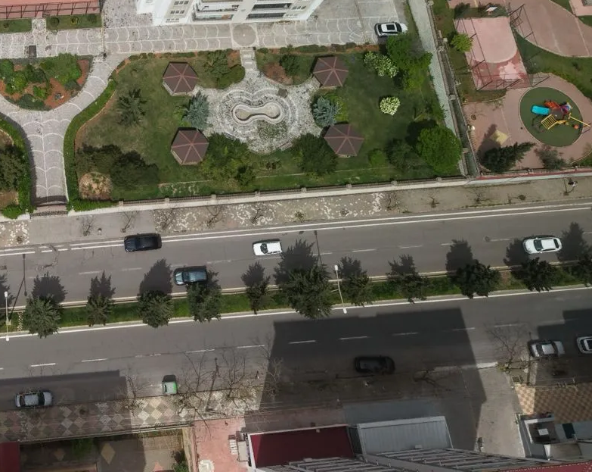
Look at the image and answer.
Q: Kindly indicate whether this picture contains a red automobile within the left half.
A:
No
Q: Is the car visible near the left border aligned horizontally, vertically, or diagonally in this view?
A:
horizontally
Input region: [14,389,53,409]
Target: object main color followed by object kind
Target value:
gray car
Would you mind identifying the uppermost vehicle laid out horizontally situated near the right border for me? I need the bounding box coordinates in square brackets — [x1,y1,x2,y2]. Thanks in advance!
[525,238,562,254]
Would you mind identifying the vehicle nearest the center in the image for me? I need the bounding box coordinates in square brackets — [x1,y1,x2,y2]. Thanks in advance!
[252,239,285,256]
